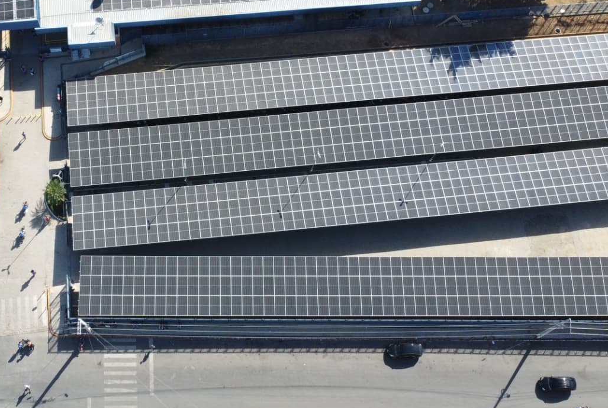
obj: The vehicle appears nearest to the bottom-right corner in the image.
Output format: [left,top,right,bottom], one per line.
[536,377,580,396]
